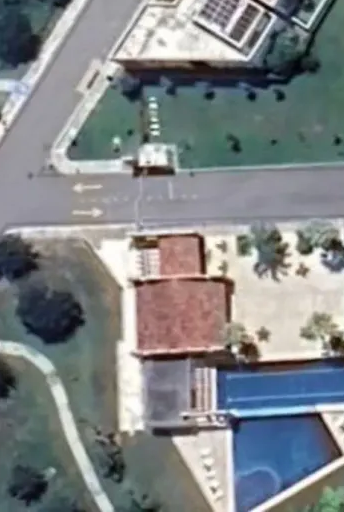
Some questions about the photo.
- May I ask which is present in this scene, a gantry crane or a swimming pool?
swimming pool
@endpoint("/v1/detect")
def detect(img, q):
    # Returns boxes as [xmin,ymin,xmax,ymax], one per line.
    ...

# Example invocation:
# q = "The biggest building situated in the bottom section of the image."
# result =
[132,273,230,354]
